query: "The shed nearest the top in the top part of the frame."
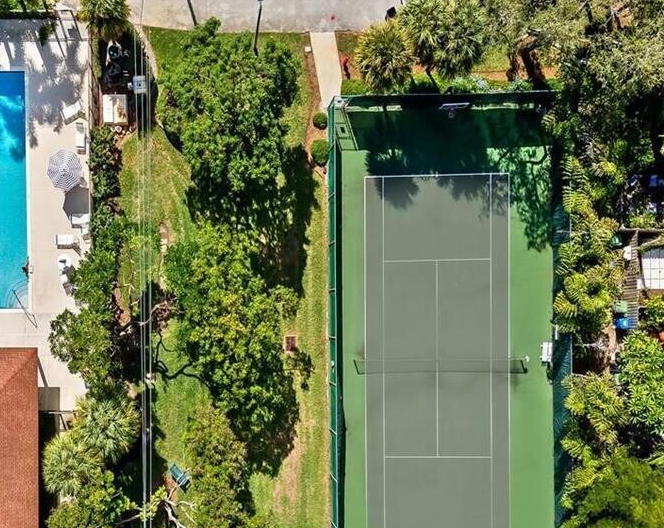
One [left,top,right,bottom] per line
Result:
[103,93,128,129]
